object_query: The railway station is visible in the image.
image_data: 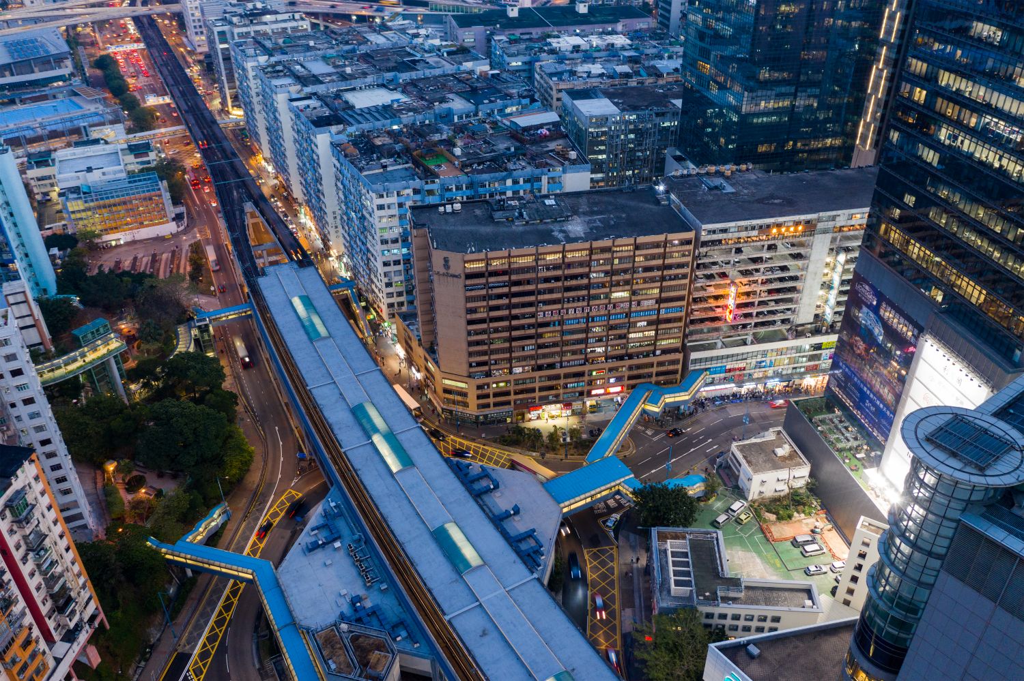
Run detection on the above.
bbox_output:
[247,265,625,681]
